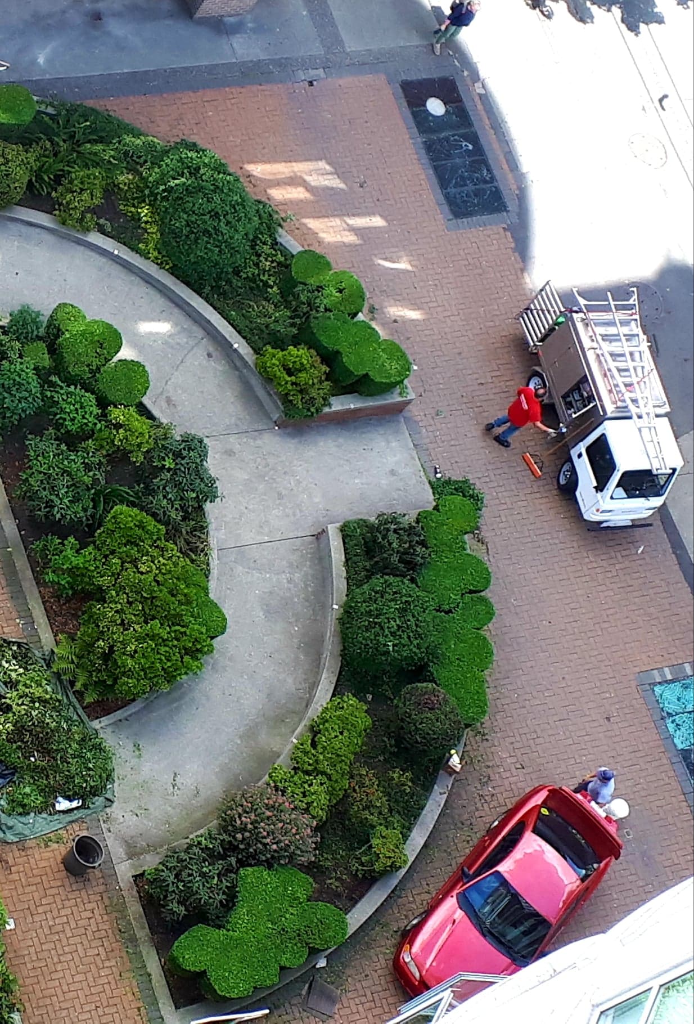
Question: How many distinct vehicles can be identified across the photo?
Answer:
two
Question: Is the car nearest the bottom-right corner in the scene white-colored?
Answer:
No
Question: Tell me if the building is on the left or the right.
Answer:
right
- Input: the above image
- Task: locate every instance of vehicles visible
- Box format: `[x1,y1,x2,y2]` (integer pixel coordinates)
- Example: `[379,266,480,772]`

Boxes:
[395,786,618,1014]
[521,279,680,528]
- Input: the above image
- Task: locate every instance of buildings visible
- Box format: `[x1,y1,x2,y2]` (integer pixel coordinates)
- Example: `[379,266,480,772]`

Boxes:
[409,877,694,1024]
